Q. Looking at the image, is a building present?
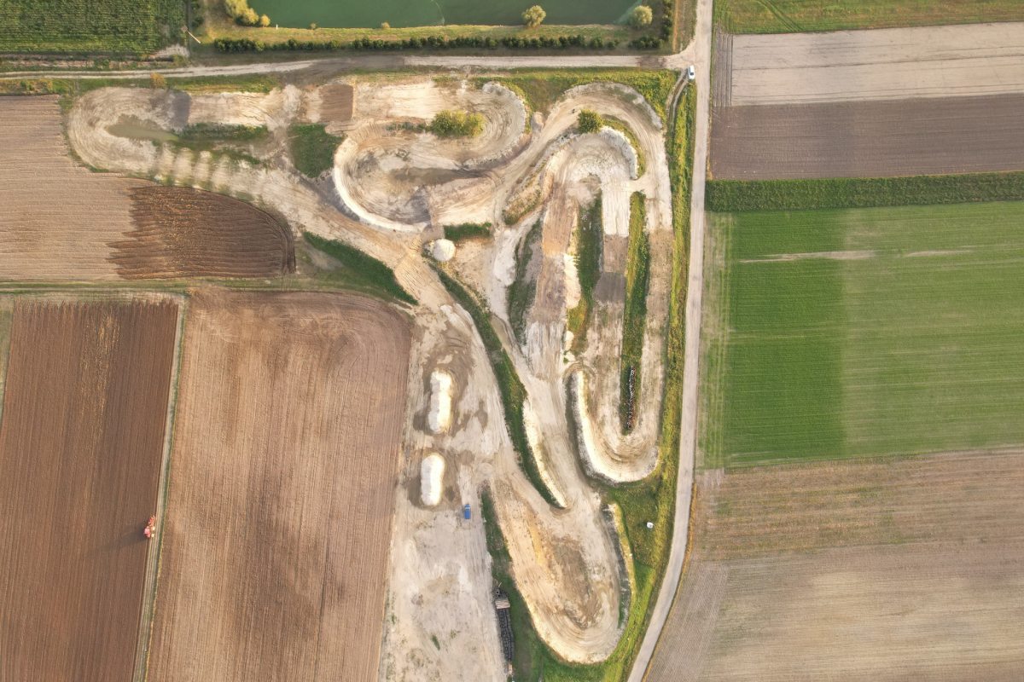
No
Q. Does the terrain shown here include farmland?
Yes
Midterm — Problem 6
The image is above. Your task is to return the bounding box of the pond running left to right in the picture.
[255,0,641,29]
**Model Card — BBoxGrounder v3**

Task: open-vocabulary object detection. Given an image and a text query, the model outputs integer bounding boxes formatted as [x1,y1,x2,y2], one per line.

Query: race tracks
[68,78,673,682]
